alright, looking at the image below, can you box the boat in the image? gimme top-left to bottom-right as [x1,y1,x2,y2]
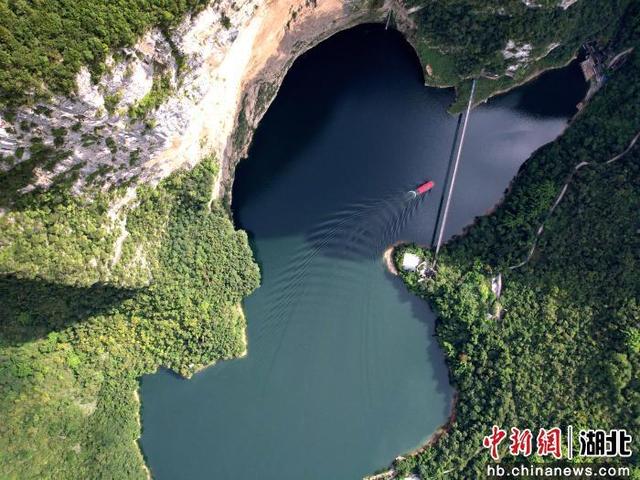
[415,181,436,194]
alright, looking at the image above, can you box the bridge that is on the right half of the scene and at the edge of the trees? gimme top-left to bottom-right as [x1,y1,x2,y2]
[433,77,478,265]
